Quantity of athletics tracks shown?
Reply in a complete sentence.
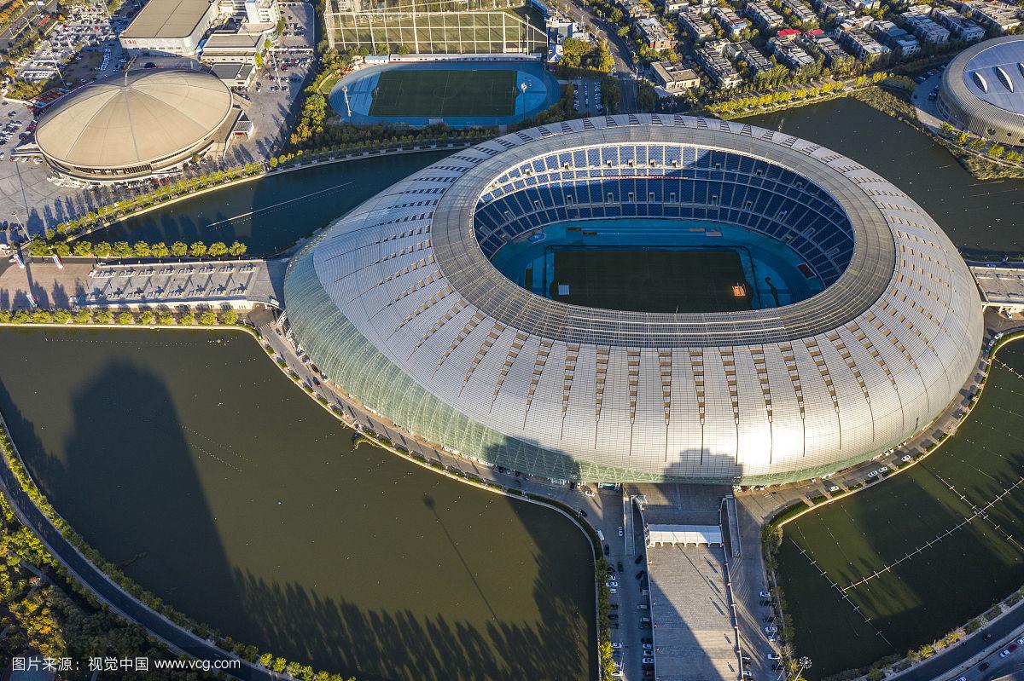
The photo contains 2 athletics tracks.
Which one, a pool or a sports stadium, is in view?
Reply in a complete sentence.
Looking from above, you can make out a sports stadium.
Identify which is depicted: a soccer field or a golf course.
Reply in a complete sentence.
The one in the frame is a soccer field.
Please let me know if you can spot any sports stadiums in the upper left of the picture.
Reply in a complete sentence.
Yes, a sports stadium appears in the upper left of the picture.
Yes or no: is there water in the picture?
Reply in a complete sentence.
Yes, there is water in the image.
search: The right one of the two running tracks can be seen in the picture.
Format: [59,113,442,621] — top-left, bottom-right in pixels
[488,217,823,308]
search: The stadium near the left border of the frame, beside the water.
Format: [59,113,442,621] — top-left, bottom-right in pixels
[12,67,252,185]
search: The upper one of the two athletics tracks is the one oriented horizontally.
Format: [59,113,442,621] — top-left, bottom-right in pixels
[328,54,564,120]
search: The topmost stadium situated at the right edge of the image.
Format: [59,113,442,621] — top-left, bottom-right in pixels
[928,38,1024,160]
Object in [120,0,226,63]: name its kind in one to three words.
building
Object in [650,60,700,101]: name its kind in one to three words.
building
